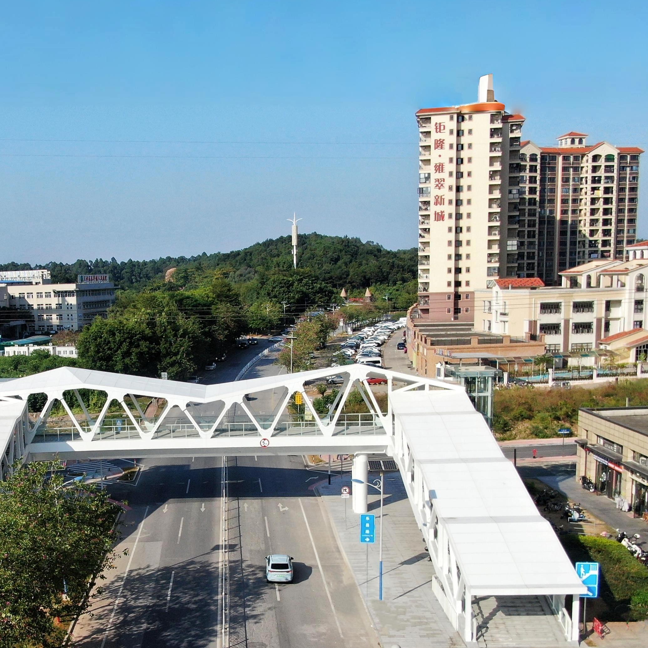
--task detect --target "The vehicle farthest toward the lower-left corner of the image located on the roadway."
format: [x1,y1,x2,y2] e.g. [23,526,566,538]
[263,549,296,583]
